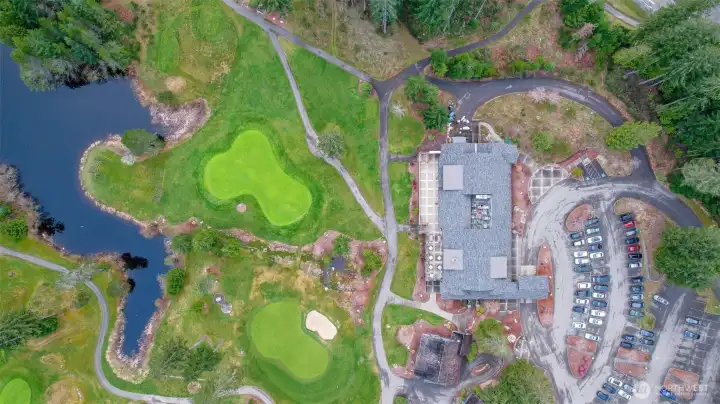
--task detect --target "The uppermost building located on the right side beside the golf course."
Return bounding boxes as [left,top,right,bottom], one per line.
[428,137,550,299]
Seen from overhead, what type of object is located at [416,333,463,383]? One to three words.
barn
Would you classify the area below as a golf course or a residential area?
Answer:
golf course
